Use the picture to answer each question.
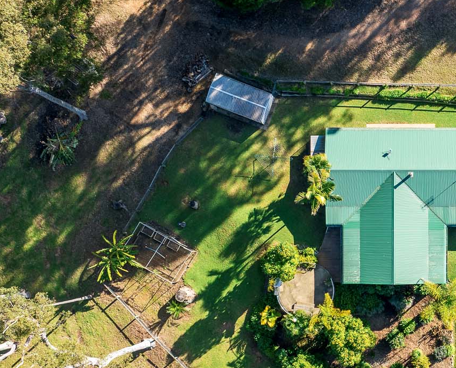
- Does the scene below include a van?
No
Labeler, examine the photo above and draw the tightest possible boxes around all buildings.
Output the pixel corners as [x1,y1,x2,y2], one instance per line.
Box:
[204,73,277,126]
[325,126,456,285]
